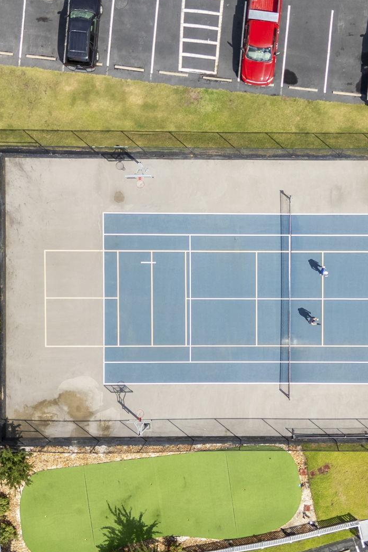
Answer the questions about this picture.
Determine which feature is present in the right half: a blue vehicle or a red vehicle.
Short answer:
red vehicle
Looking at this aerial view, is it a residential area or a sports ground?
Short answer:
sports ground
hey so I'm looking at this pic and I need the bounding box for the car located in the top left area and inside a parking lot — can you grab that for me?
[63,0,104,72]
